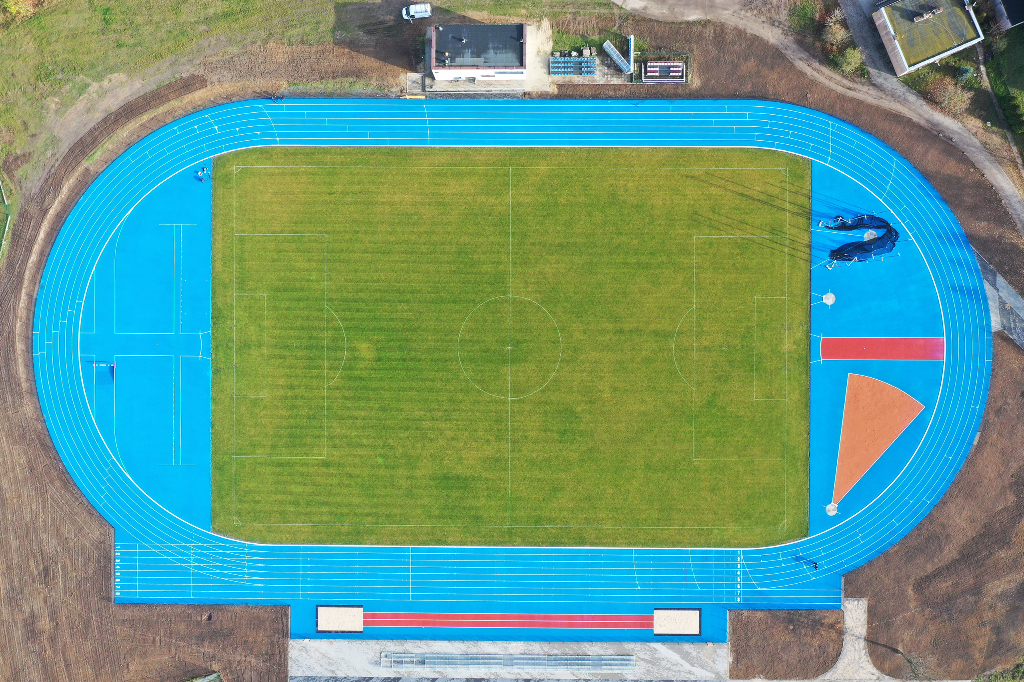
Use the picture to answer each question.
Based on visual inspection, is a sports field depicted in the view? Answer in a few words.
Yes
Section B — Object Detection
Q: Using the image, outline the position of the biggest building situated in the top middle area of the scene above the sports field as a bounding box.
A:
[431,23,526,88]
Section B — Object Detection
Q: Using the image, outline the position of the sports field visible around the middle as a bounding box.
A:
[211,147,811,547]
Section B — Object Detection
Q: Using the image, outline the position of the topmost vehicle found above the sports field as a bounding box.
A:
[402,3,433,23]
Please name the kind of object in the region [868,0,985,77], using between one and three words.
house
